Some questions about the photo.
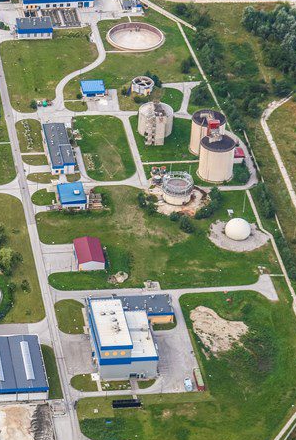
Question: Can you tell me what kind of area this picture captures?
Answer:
industrial area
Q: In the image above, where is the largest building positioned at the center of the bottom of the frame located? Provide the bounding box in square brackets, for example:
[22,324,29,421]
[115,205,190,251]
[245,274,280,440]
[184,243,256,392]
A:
[80,286,175,389]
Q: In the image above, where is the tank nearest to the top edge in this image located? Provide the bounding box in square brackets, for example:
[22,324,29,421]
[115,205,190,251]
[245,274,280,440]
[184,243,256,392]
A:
[104,22,169,54]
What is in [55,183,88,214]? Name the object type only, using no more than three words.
house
